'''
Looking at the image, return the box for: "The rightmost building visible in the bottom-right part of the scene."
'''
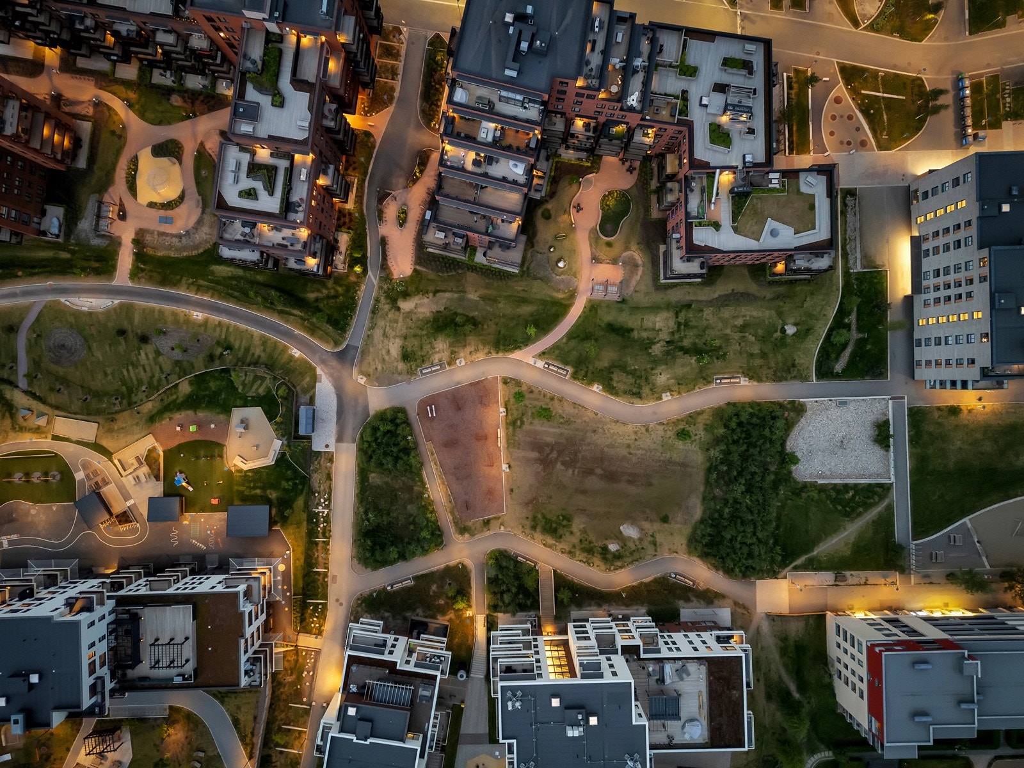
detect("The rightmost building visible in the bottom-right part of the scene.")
[827,610,1024,759]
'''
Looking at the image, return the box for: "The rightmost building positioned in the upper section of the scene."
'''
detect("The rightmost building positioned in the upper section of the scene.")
[909,152,1024,393]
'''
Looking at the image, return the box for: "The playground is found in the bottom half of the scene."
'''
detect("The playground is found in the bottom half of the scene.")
[0,442,290,632]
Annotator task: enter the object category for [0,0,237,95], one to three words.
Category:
building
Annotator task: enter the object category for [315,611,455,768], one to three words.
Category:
building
